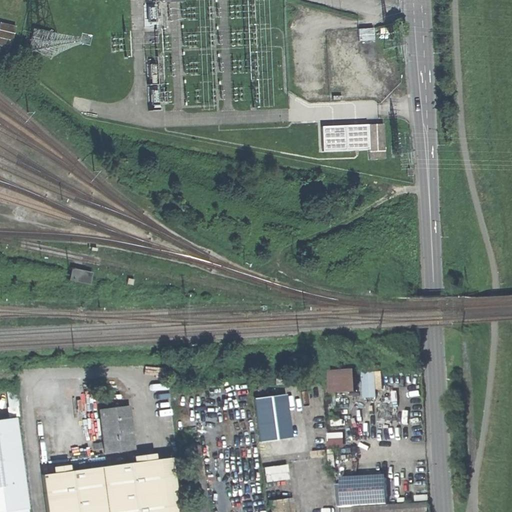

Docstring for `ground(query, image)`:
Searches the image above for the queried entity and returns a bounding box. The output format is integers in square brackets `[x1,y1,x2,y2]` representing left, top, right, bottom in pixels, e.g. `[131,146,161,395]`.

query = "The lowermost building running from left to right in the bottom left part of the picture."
[41,454,180,512]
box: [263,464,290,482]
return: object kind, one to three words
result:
shed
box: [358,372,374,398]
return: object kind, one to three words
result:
shed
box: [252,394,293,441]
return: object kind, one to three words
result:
building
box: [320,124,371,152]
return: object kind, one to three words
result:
building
